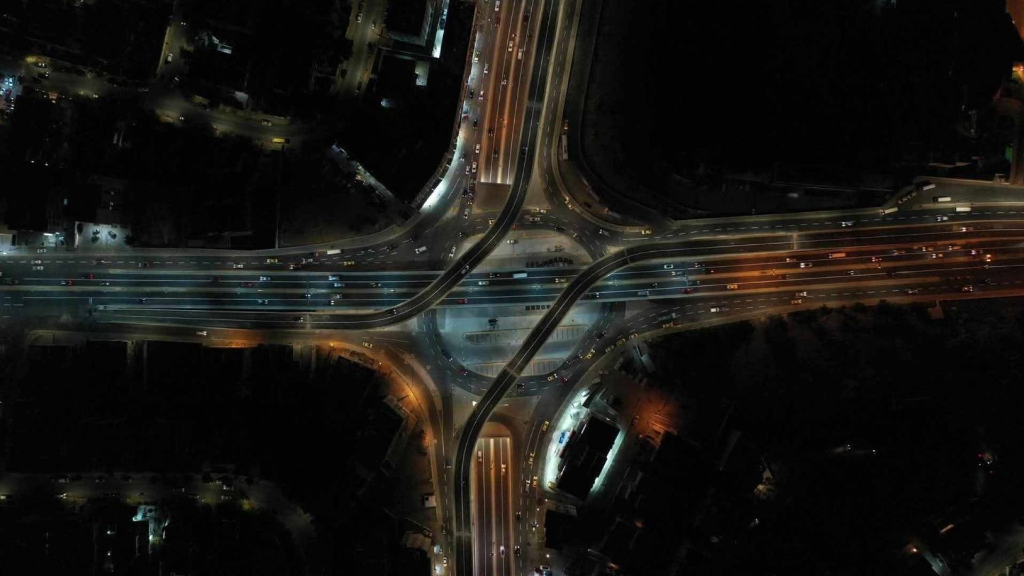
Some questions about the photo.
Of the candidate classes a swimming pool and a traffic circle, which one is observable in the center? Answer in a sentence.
The one visible in the center is a traffic circle.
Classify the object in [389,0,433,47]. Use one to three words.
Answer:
building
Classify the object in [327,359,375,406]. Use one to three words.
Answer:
house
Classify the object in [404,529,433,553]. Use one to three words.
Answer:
house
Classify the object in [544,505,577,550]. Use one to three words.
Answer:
building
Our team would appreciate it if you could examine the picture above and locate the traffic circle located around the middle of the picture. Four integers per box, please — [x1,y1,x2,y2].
[417,209,624,398]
